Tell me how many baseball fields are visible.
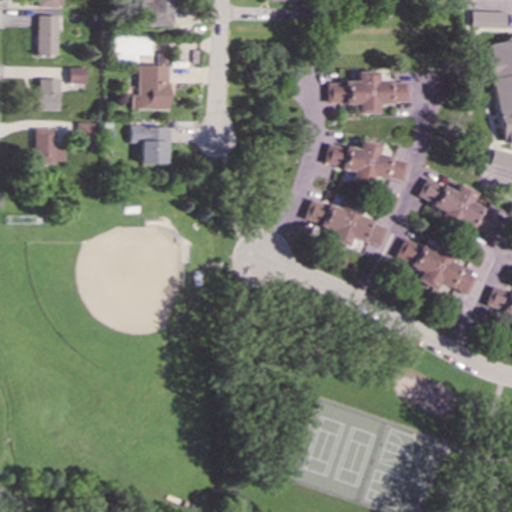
1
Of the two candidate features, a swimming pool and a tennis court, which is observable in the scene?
tennis court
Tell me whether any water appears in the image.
No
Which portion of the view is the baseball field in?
left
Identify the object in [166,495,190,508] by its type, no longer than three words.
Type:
vehicle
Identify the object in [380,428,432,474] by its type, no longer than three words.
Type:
basketball court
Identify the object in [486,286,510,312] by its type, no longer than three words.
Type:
building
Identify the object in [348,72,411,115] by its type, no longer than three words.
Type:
house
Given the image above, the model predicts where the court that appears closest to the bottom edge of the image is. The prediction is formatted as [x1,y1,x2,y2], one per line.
[366,469,416,512]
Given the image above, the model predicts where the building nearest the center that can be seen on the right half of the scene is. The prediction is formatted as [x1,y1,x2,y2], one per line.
[304,200,328,224]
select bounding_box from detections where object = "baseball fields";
[26,216,192,374]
